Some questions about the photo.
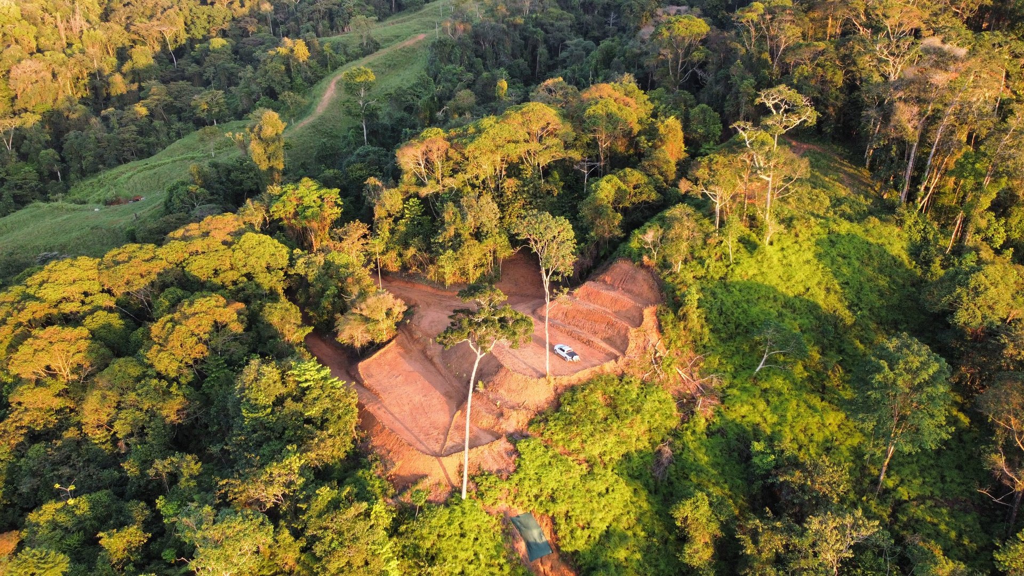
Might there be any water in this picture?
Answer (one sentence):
No, the scene doesn't show any water.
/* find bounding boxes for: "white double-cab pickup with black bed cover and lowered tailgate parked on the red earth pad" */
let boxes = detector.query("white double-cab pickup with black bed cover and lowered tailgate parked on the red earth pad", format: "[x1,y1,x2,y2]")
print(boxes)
[554,344,581,360]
